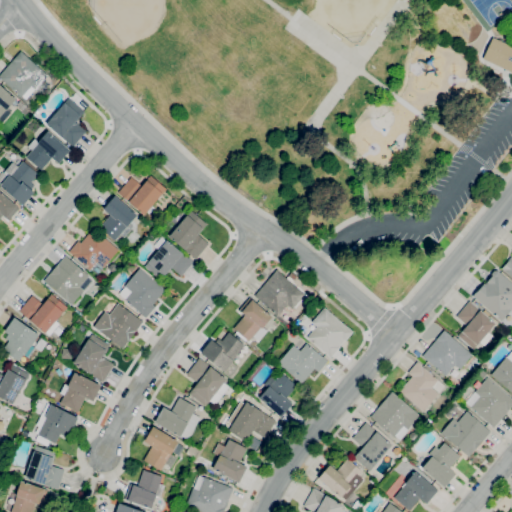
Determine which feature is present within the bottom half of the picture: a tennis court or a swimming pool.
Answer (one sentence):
Visible within the bottom half of the picture is a swimming pool.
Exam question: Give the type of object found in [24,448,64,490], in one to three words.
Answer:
house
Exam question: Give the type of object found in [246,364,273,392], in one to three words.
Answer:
swimming pool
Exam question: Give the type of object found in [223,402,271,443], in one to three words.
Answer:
house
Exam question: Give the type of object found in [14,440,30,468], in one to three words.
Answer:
swimming pool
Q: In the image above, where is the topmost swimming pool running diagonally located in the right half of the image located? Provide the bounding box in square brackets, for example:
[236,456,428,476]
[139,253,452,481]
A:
[488,344,512,368]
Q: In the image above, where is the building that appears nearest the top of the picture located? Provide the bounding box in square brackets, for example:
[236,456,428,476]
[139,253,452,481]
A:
[484,38,512,68]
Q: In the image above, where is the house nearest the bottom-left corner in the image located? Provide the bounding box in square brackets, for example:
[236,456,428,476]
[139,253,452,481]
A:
[10,482,48,512]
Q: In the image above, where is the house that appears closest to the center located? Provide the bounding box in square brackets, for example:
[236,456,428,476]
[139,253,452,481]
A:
[255,270,303,317]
